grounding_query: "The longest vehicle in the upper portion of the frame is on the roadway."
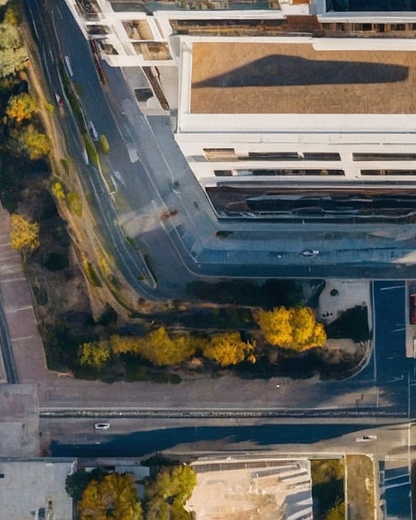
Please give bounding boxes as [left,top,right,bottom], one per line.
[89,48,104,74]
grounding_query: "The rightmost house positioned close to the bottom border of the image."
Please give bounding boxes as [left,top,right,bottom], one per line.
[185,458,312,520]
